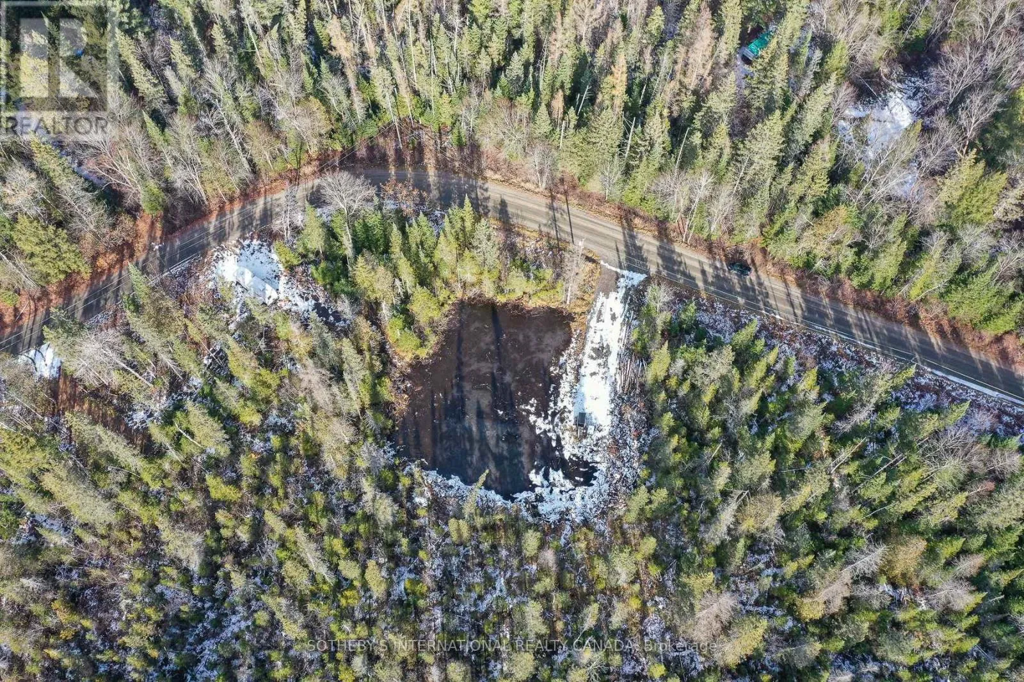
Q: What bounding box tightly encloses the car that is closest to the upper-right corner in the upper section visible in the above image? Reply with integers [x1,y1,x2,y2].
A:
[726,262,755,280]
